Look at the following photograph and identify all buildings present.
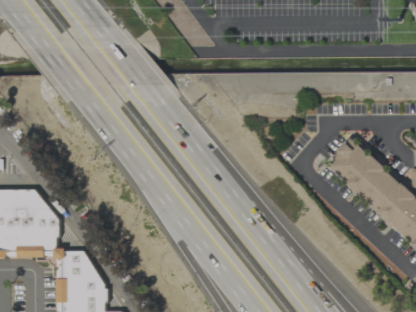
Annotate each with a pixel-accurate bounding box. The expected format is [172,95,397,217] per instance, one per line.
[0,190,110,312]
[330,140,416,252]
